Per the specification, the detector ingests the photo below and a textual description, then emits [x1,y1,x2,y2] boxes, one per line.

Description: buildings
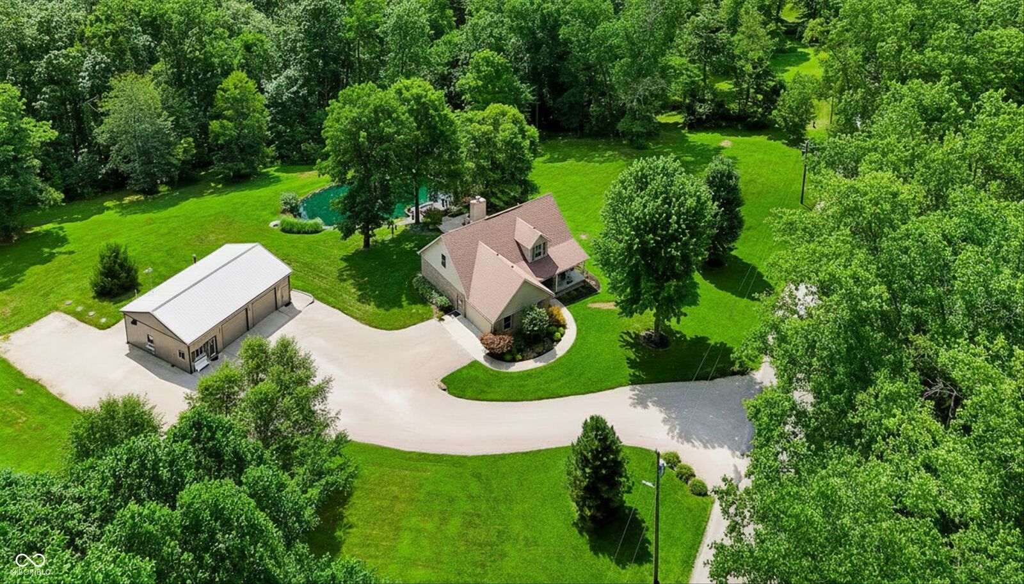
[416,193,591,336]
[119,242,293,374]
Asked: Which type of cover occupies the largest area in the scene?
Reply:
trees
